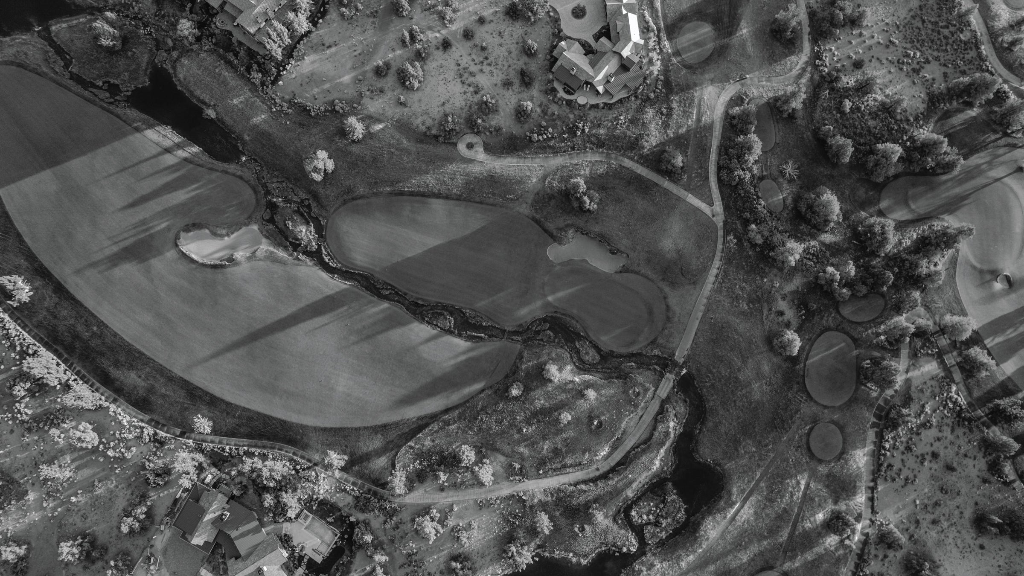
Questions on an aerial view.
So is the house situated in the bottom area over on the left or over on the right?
left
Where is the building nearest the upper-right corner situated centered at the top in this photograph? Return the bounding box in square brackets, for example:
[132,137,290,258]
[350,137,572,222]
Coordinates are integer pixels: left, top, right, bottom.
[552,0,645,97]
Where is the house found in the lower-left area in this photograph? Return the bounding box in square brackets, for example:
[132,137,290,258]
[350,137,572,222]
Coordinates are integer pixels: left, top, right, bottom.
[172,480,296,576]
